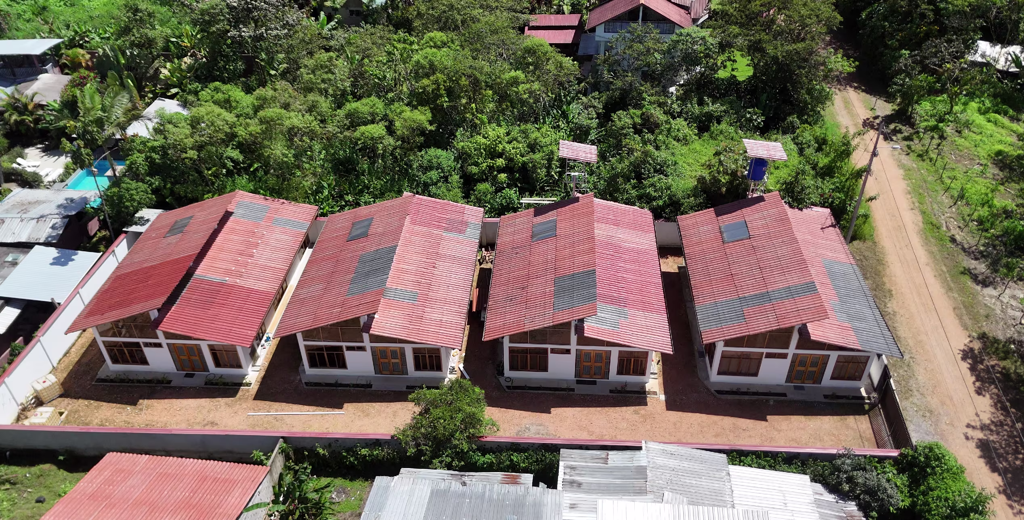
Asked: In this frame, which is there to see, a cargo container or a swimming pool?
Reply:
swimming pool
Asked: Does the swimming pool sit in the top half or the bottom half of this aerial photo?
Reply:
top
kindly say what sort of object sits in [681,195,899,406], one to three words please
house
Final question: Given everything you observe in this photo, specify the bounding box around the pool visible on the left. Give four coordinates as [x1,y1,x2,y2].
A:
[59,147,156,209]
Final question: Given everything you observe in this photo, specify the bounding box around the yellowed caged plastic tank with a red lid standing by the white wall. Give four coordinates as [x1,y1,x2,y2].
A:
[30,372,65,404]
